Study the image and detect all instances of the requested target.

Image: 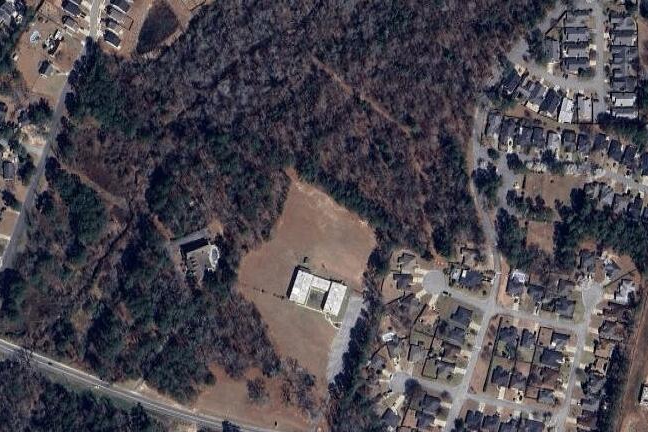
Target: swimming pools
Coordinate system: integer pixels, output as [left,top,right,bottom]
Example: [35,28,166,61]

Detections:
[209,245,220,267]
[31,30,41,42]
